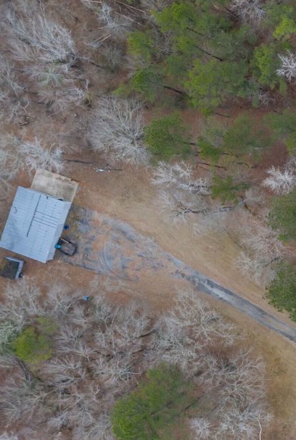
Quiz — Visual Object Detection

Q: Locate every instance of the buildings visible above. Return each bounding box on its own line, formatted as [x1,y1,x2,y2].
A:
[0,187,78,263]
[0,257,26,279]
